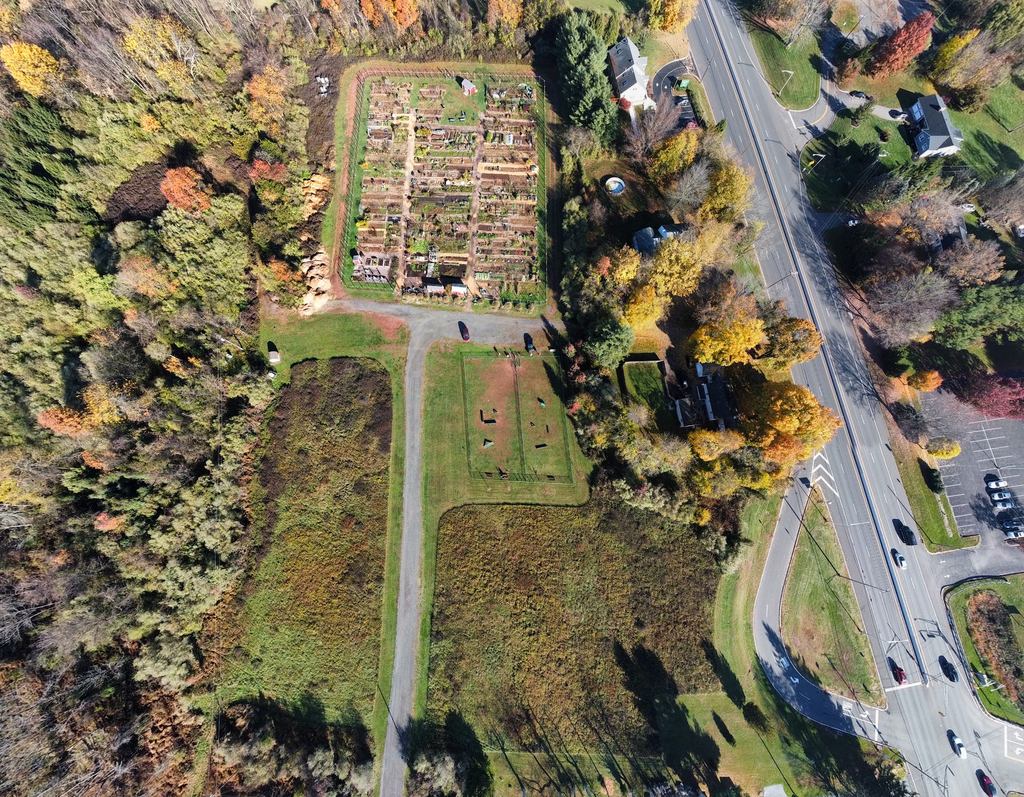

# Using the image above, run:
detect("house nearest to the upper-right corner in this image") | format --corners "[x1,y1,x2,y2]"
[905,90,965,161]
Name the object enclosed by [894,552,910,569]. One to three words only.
car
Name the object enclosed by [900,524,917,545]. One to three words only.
vehicle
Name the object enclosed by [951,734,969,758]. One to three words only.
car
